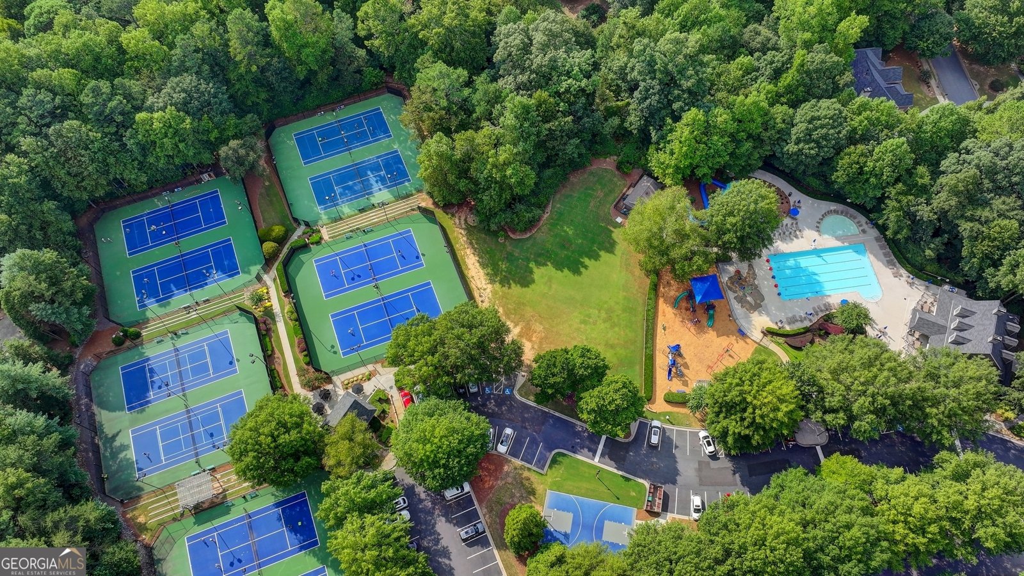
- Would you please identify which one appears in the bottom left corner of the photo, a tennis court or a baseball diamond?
tennis court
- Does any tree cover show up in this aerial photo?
Yes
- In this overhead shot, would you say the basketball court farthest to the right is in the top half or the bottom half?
bottom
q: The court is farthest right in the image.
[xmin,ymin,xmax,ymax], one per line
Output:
[534,491,635,576]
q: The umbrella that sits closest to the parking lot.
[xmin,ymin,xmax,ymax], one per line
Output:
[350,382,364,396]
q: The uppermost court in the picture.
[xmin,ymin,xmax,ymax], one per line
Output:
[293,107,393,166]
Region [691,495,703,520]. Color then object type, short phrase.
white vehicle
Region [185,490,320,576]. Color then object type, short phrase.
blue tennis court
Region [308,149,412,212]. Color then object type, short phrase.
blue tennis court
